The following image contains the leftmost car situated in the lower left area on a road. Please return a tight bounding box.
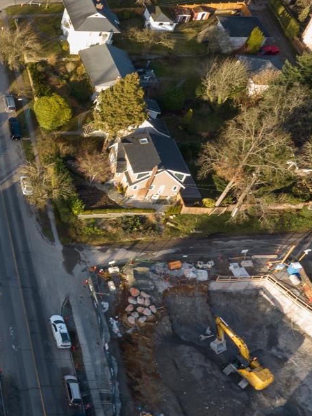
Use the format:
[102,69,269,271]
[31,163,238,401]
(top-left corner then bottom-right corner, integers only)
[51,317,74,353]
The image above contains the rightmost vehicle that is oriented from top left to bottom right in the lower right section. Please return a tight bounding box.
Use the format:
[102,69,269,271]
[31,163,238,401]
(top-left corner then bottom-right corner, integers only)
[197,330,285,394]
